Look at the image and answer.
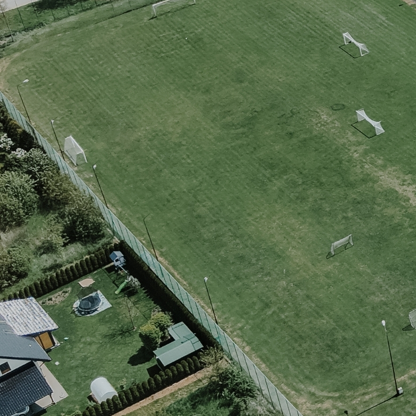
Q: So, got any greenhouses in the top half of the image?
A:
No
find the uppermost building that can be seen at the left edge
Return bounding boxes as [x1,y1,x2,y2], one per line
[0,298,60,383]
